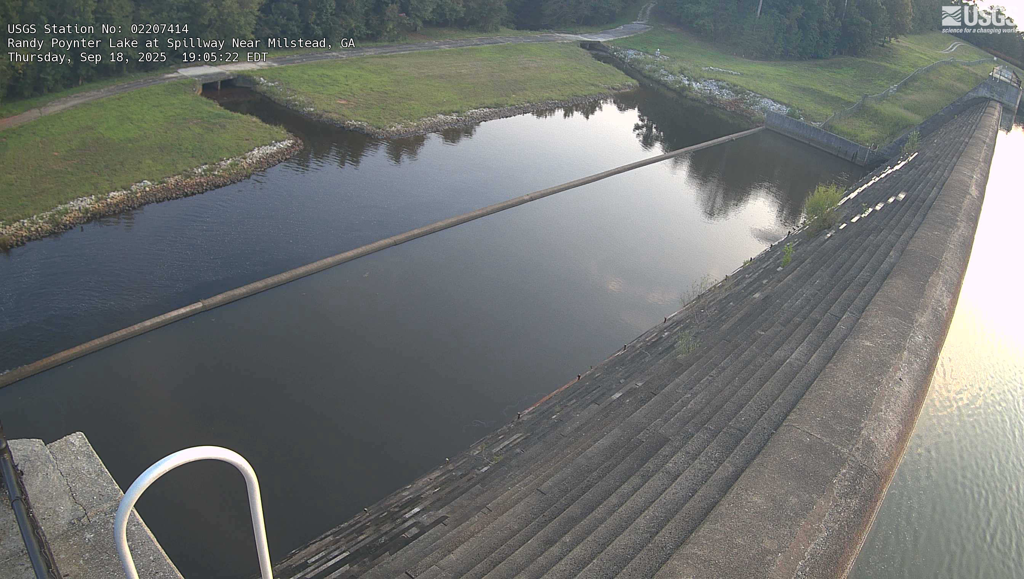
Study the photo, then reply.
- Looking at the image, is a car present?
No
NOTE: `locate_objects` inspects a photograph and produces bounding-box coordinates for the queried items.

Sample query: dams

[0,125,767,382]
